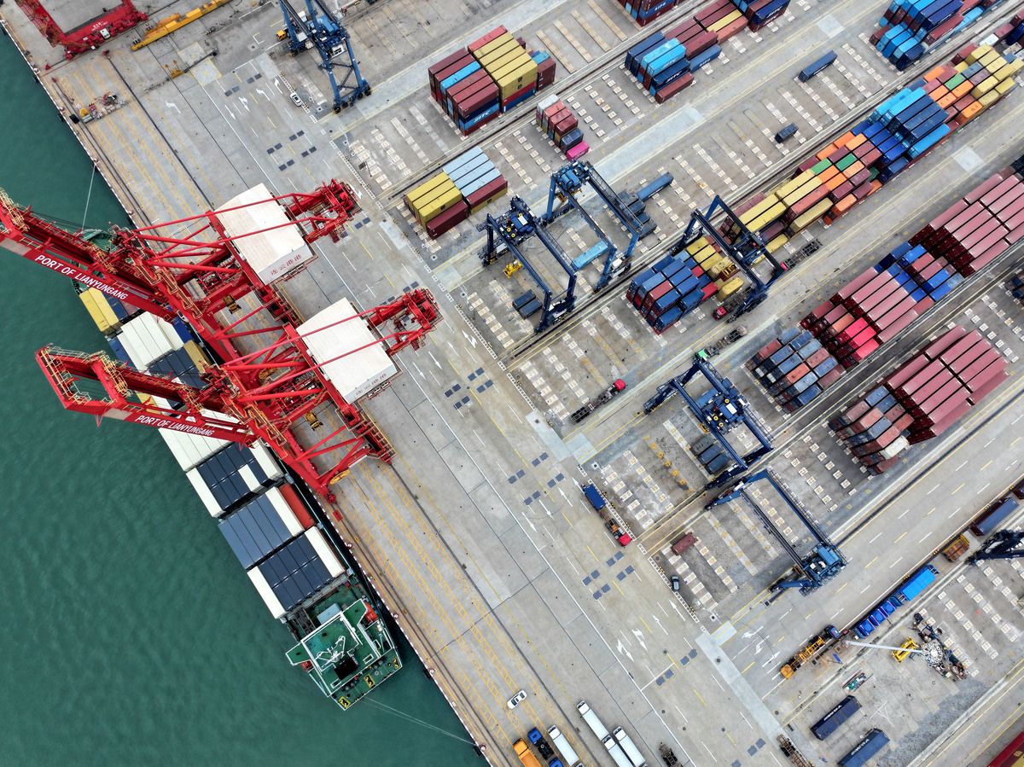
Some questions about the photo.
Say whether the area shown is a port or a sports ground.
port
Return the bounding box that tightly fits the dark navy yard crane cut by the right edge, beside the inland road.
[966,529,1024,565]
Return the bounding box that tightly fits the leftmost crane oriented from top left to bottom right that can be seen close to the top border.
[274,0,372,113]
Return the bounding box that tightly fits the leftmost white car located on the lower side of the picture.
[507,690,527,710]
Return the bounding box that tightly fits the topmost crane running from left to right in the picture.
[10,0,147,61]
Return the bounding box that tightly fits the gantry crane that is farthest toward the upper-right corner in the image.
[671,192,792,324]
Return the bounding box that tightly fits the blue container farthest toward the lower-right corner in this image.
[837,727,889,767]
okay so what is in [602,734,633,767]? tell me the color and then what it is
white truck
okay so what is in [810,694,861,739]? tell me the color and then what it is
blue shipping container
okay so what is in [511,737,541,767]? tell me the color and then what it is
orange truck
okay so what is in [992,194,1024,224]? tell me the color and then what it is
pink shipping container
